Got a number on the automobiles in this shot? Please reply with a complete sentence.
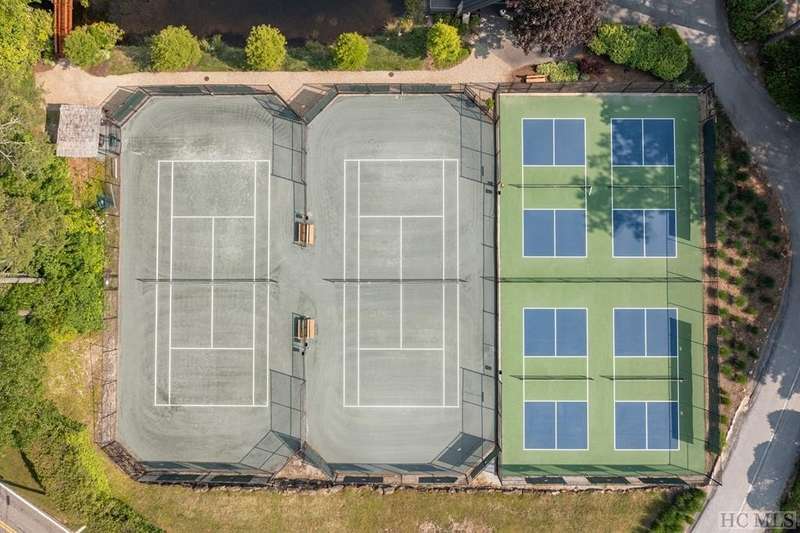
No automobiles are visible.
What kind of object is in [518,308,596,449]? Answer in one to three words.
sports court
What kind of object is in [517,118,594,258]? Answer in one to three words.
sports court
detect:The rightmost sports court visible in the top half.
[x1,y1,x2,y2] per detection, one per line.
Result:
[606,118,686,258]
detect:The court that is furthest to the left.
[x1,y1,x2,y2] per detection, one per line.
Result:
[116,95,305,473]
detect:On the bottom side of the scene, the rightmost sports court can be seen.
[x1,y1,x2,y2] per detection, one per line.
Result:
[609,308,689,450]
